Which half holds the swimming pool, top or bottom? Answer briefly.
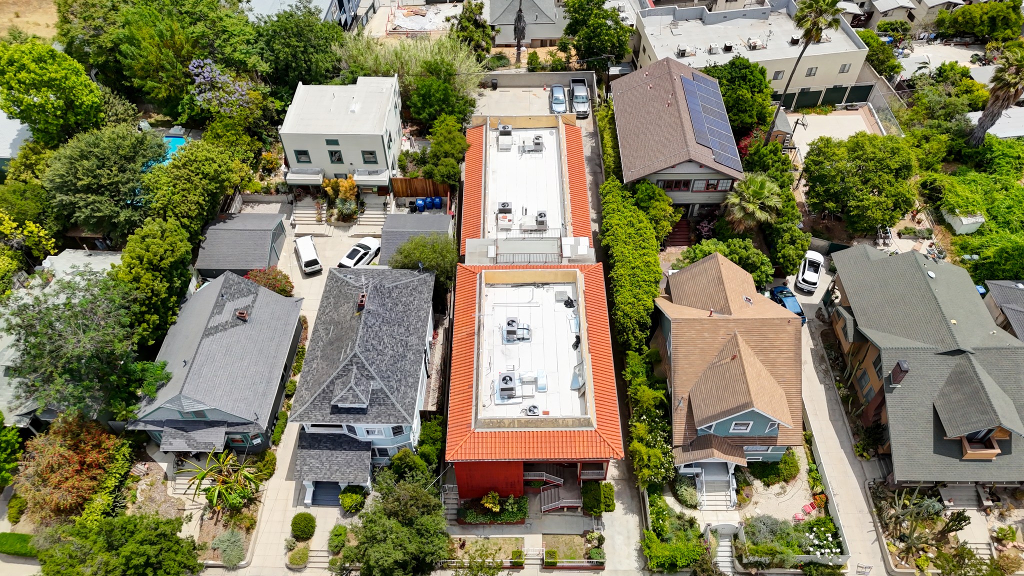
top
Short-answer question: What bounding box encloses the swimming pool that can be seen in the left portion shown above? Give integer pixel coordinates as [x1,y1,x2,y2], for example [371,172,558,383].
[80,139,190,214]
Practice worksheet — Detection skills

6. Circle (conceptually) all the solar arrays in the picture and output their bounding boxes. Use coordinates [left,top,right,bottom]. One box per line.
[685,74,740,167]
